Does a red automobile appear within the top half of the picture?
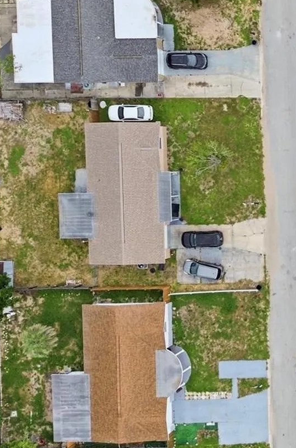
No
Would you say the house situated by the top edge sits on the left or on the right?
left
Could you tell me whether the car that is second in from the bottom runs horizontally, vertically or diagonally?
horizontally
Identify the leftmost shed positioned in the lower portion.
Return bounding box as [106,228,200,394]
[0,260,24,286]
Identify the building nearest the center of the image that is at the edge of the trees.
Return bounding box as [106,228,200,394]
[58,121,190,266]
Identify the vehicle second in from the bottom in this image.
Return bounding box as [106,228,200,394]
[183,230,225,249]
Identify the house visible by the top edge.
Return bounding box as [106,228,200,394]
[12,0,174,84]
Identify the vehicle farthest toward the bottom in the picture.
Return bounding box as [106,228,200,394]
[184,257,227,281]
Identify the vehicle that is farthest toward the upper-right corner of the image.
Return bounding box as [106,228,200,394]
[166,50,210,70]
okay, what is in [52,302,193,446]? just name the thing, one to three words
house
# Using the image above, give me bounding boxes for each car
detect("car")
[110,103,156,122]
[184,257,227,281]
[166,50,210,70]
[183,230,225,249]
